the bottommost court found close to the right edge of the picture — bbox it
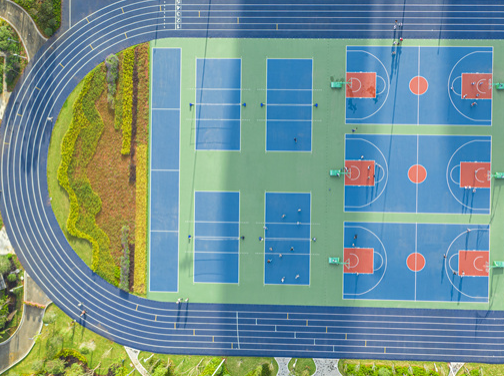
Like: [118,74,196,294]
[342,221,490,303]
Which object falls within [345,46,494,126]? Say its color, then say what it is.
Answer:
blue basketball court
